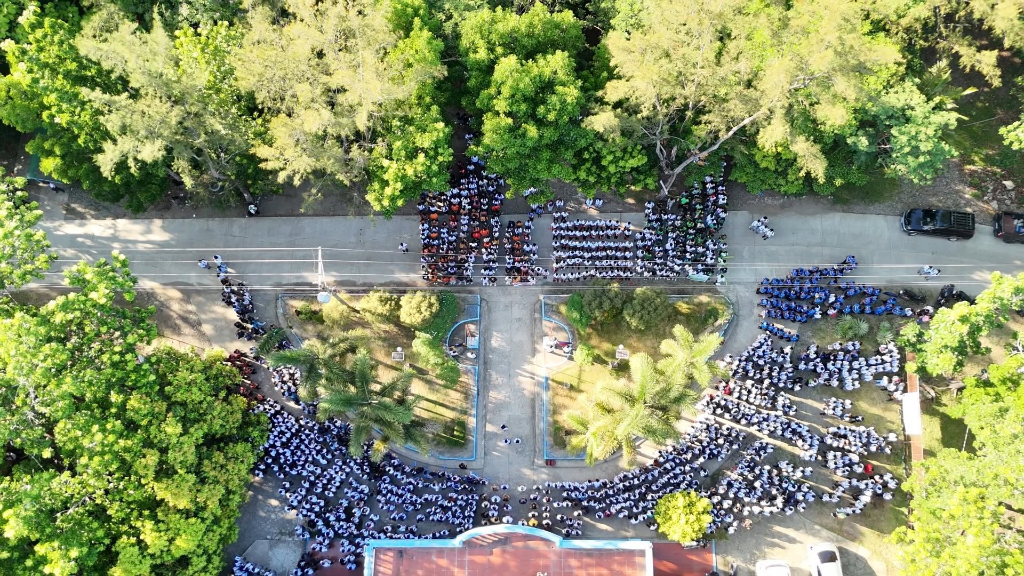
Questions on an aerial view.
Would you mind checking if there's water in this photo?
No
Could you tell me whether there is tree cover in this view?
Yes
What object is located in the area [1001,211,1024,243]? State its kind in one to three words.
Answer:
truck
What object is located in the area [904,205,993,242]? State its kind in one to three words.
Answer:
truck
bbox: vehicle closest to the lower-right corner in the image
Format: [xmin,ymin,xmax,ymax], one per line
[810,539,848,576]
